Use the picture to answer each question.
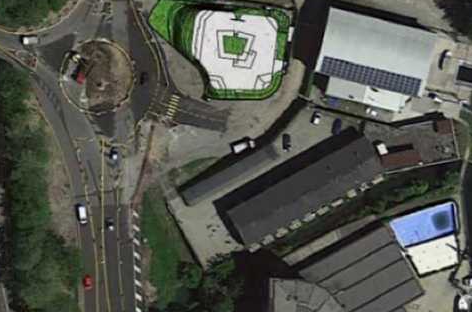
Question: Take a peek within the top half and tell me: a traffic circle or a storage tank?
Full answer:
There is a traffic circle within the top half.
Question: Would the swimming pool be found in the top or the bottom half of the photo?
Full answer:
It is in the bottom half that the swimming pool appears.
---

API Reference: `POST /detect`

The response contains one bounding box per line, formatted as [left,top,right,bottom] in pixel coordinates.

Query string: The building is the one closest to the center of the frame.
[182,146,279,204]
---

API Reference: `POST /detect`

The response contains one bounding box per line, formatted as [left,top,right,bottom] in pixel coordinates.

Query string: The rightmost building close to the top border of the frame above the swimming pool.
[315,7,438,96]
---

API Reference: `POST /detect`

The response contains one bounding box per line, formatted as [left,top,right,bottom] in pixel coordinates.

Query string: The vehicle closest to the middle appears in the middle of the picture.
[232,140,253,154]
